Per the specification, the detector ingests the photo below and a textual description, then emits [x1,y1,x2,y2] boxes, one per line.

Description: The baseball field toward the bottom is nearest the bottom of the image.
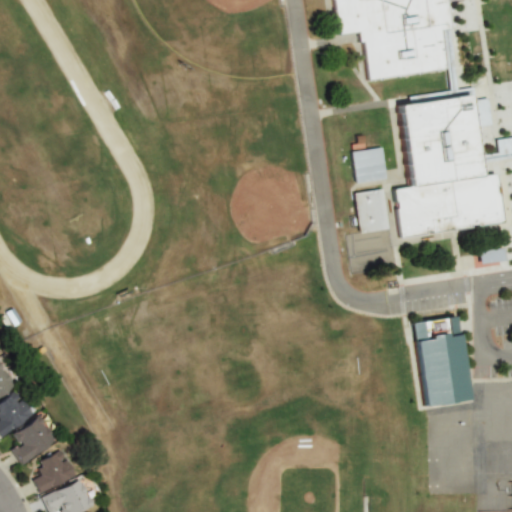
[249,436,341,512]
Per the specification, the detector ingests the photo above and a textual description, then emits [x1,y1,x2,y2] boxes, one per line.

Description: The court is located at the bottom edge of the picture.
[427,384,512,512]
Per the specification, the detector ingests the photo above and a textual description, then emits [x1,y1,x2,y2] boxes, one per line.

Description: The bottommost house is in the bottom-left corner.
[42,478,97,512]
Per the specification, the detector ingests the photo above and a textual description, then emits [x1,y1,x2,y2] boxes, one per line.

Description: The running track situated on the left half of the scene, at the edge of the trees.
[0,0,154,299]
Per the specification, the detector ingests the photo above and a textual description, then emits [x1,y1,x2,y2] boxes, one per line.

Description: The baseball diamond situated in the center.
[232,167,310,242]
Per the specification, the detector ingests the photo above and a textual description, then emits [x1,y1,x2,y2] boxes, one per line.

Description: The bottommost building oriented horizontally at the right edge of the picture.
[393,174,504,237]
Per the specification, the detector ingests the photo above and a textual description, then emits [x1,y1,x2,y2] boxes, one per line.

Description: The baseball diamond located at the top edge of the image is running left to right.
[132,0,294,80]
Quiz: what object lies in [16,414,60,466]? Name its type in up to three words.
house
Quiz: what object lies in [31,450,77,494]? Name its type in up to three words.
house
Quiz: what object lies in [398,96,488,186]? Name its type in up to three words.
building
